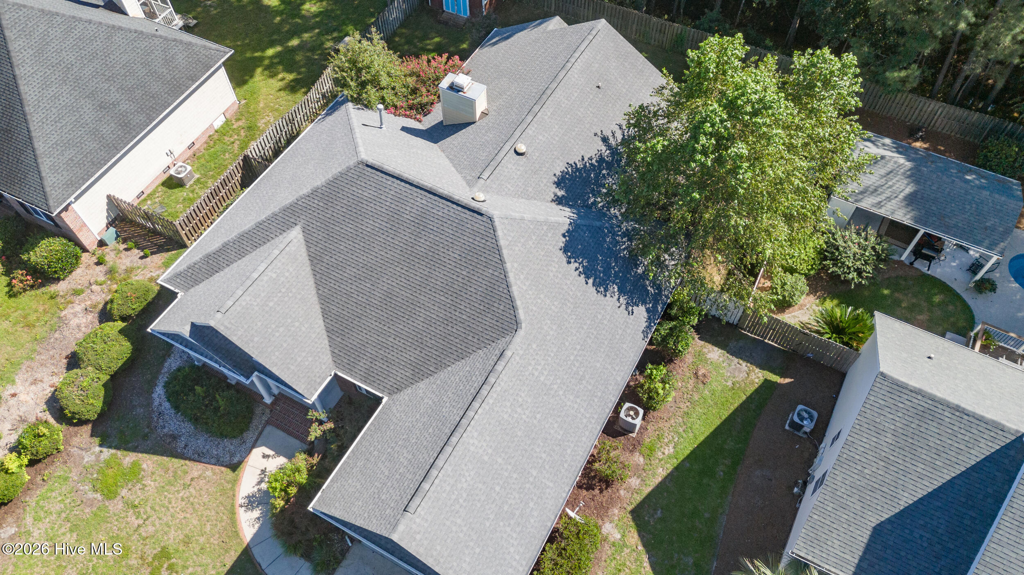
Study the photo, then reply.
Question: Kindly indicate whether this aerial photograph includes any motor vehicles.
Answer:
No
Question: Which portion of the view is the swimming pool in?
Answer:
right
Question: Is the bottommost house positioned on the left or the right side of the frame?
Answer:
right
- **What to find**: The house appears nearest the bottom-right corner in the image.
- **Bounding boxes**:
[778,308,1024,575]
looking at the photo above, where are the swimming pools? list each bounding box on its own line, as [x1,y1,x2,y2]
[1004,244,1024,292]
